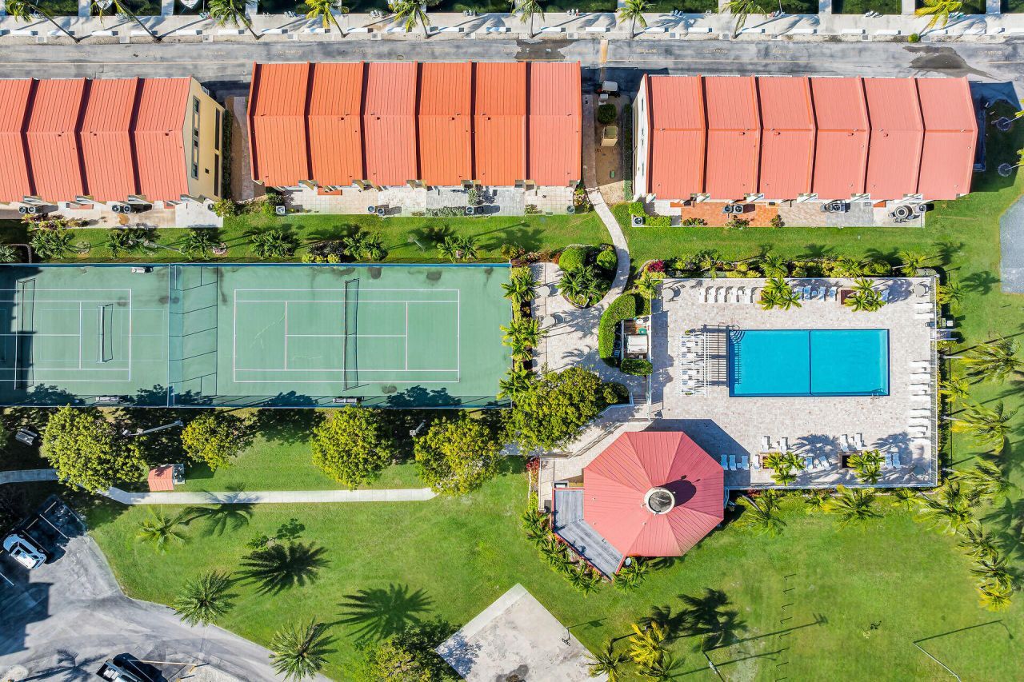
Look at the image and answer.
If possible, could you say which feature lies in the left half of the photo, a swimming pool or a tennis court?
tennis court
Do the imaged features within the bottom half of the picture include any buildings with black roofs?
No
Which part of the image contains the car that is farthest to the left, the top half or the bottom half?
bottom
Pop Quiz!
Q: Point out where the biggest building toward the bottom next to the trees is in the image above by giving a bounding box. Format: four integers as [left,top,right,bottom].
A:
[553,431,724,584]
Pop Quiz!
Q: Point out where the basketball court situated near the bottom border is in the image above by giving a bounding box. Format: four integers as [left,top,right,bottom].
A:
[445,584,614,682]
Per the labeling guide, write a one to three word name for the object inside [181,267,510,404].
tennis court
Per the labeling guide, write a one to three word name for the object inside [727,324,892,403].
swimming pool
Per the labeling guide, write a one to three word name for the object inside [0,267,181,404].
tennis court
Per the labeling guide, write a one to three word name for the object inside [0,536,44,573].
car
